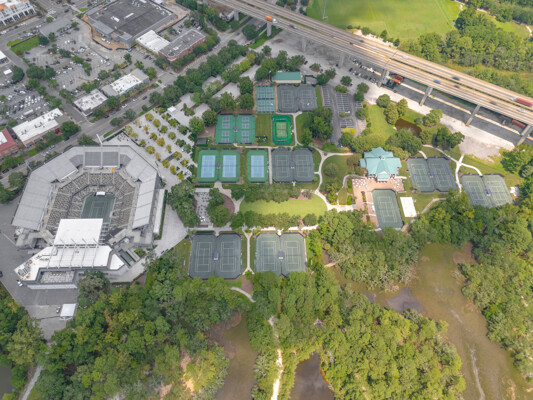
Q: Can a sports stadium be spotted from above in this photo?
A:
Yes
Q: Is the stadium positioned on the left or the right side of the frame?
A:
left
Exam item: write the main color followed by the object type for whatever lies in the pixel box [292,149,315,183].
gray tennis court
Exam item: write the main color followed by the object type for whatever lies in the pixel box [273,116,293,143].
green sports court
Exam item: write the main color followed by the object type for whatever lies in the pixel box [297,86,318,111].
gray tennis court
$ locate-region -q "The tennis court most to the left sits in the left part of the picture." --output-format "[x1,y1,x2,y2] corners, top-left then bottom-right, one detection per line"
[80,193,115,235]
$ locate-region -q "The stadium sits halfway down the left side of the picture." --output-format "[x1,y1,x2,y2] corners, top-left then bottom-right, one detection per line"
[12,146,161,258]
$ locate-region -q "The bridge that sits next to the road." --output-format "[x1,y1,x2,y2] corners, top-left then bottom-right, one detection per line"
[198,0,533,142]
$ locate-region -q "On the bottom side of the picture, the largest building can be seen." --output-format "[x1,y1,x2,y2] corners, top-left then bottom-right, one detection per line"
[13,218,130,289]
